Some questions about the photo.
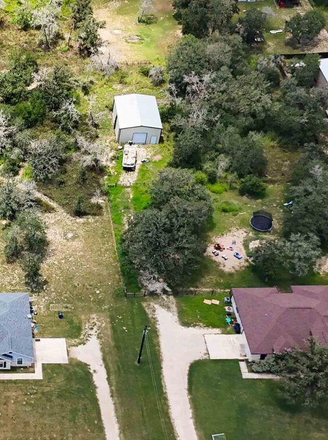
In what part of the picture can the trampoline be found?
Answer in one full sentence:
The trampoline appears toward the right of the photo.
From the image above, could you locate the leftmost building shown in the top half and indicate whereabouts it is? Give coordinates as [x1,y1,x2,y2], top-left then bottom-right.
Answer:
[113,92,162,144]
